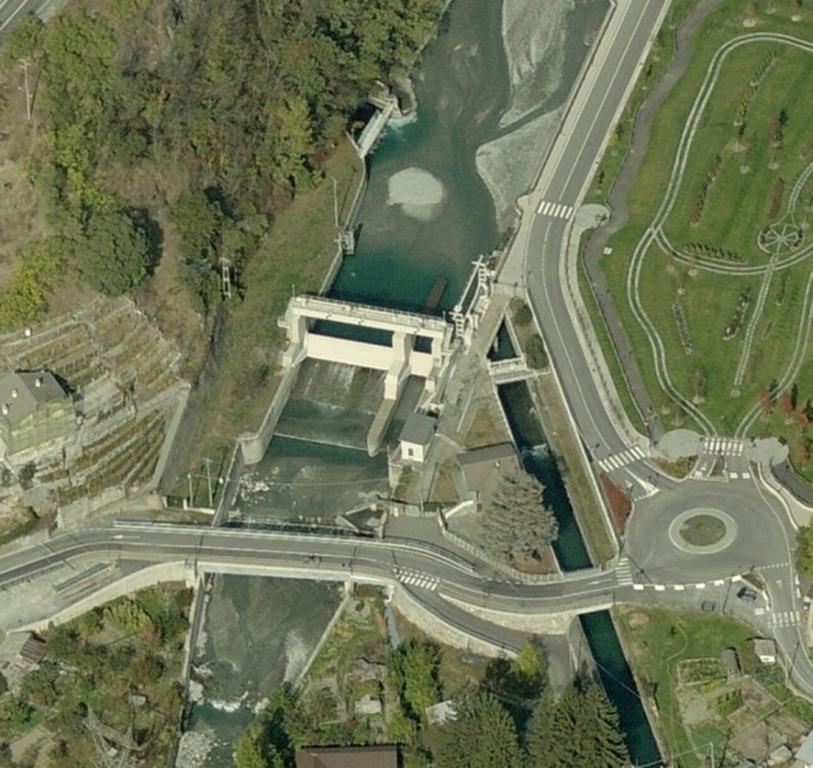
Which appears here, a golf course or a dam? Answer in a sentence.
Of the two, only a dam appears.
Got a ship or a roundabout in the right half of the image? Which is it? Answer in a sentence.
You can see a roundabout in the right half of the image.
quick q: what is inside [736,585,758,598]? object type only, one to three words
vehicle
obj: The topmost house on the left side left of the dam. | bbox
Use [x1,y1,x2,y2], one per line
[0,361,68,457]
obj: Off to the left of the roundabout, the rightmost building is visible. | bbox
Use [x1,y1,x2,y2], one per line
[456,450,530,508]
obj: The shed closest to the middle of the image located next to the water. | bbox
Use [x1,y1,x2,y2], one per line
[396,415,433,470]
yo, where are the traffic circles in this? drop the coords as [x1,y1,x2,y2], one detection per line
[616,455,791,592]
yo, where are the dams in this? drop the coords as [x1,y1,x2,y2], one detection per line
[276,287,458,461]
